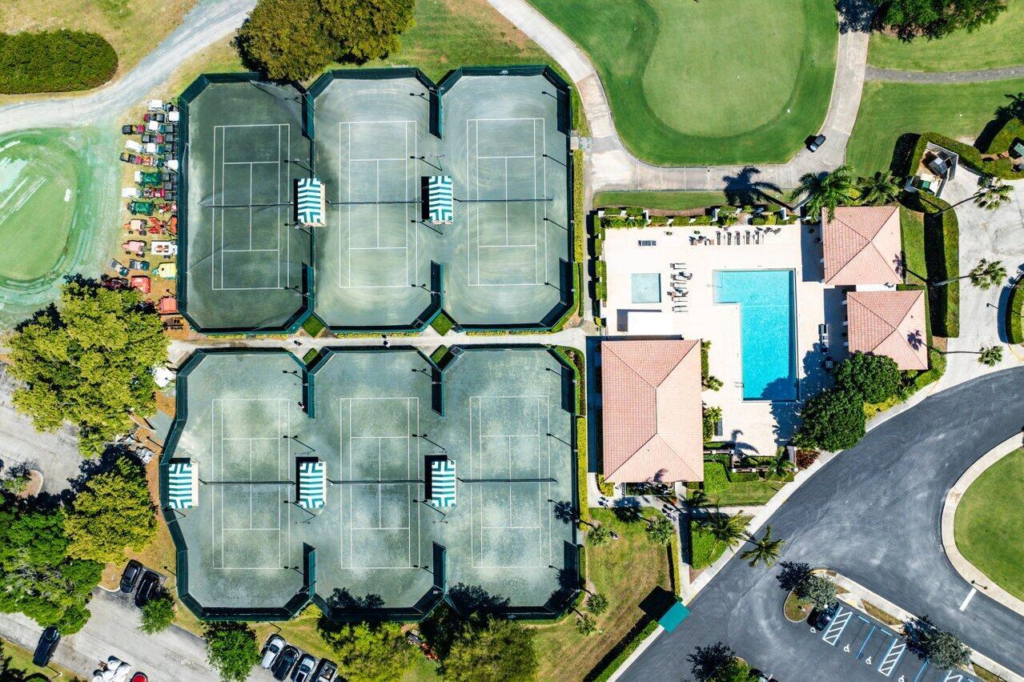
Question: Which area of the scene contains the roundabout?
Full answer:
The roundabout sits in the bottom right section of the image.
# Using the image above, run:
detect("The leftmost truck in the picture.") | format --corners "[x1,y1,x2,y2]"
[33,632,62,667]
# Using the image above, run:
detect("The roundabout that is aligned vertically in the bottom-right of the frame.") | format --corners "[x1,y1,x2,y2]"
[942,432,1024,615]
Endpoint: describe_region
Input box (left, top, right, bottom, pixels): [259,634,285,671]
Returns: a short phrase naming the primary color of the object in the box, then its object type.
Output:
white car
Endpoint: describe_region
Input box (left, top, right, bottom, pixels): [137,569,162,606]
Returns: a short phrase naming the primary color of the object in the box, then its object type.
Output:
black car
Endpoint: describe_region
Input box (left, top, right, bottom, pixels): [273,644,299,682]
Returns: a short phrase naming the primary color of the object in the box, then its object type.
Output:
black car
